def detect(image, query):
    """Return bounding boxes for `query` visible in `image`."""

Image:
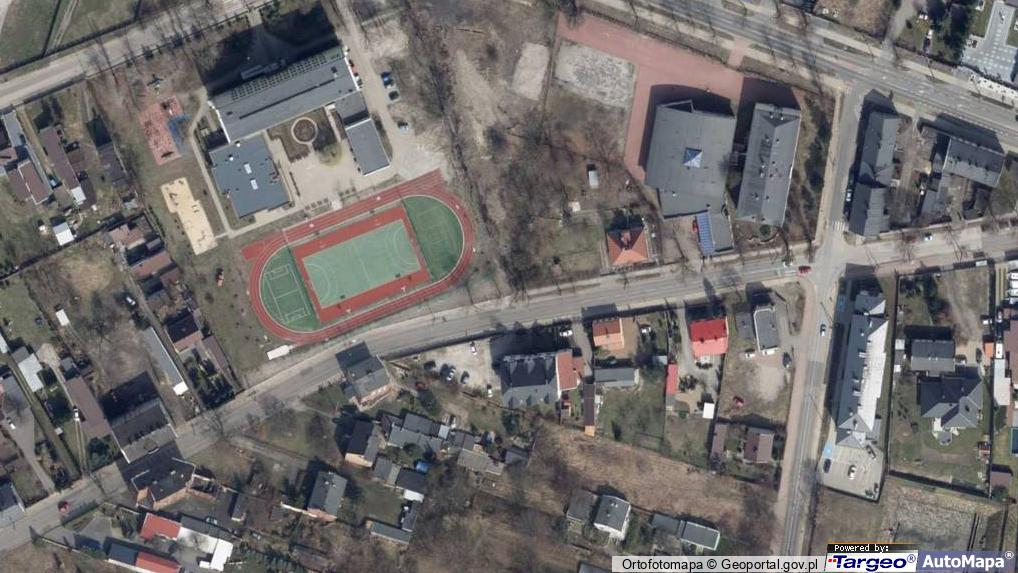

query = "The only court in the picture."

[292,207,429,321]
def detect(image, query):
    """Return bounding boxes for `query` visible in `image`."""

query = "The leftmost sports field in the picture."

[263,242,320,328]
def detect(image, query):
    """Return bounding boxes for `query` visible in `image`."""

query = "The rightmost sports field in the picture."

[402,196,461,284]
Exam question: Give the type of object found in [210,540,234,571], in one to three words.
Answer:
building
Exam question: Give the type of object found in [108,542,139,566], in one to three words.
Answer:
building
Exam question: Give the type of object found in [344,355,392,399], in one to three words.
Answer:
house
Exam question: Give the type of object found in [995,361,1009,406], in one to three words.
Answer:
shed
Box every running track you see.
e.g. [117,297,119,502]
[242,168,475,341]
